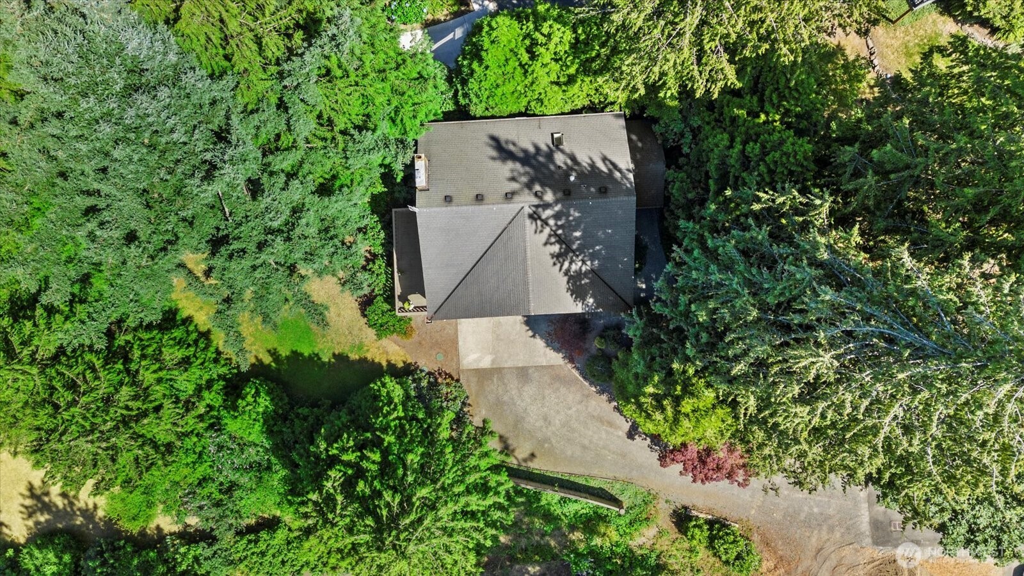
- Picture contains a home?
Yes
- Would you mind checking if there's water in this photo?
No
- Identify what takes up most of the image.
trees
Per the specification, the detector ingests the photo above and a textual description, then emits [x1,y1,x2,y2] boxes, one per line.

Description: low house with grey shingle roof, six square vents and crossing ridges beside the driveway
[415,109,664,325]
